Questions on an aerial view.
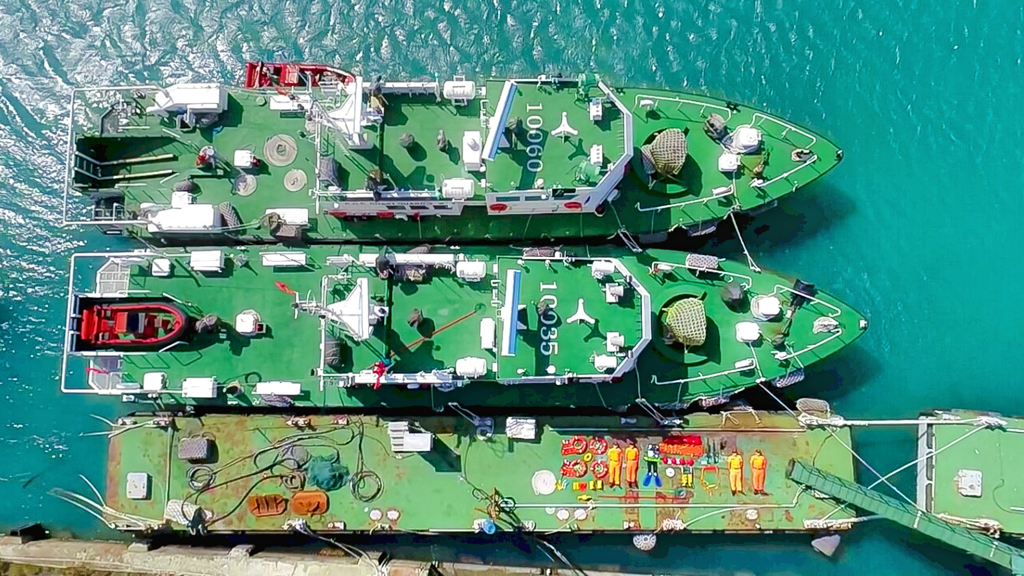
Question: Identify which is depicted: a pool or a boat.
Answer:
boat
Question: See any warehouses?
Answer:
No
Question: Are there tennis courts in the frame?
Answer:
No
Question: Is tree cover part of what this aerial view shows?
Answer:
No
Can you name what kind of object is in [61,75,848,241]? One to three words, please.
boat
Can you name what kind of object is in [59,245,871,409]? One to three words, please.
boat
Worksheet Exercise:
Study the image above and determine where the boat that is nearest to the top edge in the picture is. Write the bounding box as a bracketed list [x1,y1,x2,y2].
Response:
[238,55,355,88]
